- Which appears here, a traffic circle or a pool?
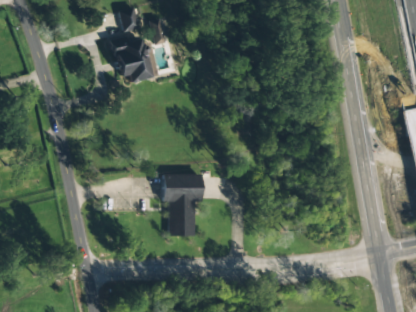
pool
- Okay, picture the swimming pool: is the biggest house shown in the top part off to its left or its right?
on its left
